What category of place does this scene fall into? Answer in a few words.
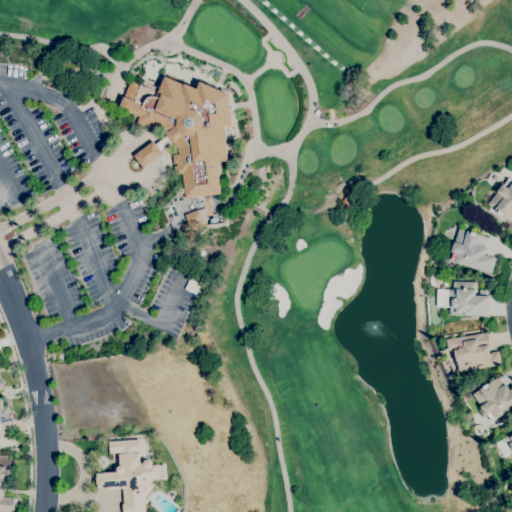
golf course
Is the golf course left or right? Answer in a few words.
right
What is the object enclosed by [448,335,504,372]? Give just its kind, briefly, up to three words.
house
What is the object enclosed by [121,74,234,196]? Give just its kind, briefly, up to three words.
building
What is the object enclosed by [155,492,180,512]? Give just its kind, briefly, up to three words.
swimming pool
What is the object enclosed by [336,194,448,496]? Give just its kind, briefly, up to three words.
pond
